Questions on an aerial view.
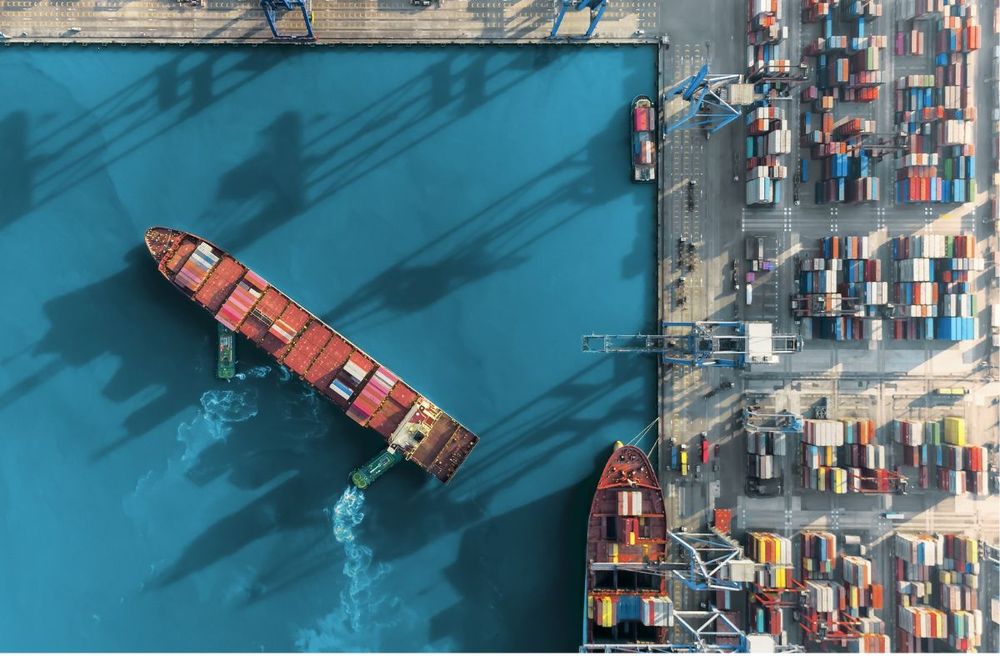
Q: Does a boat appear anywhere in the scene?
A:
Yes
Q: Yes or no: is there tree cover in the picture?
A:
No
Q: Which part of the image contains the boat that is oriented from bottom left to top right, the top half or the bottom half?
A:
bottom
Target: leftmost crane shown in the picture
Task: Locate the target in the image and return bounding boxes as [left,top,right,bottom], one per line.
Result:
[250,0,318,40]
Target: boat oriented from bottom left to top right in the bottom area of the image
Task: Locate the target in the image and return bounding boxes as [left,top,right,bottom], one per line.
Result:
[348,447,398,491]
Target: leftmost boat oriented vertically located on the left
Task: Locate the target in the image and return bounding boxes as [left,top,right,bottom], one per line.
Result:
[216,322,236,380]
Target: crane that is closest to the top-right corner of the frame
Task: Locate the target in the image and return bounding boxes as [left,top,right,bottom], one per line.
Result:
[837,131,906,163]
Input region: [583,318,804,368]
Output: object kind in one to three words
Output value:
container crane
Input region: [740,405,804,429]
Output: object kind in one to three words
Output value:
container crane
